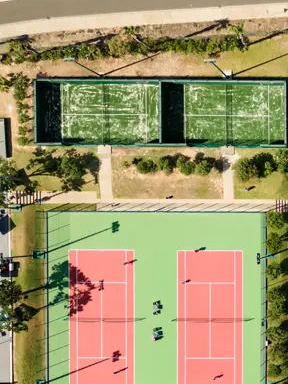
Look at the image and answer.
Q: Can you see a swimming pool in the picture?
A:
No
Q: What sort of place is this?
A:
sports ground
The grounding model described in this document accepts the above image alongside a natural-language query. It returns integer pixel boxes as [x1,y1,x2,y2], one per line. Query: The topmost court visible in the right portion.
[161,79,288,149]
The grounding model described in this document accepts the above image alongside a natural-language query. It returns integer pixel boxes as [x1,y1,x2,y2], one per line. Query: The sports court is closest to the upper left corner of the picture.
[34,79,165,149]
